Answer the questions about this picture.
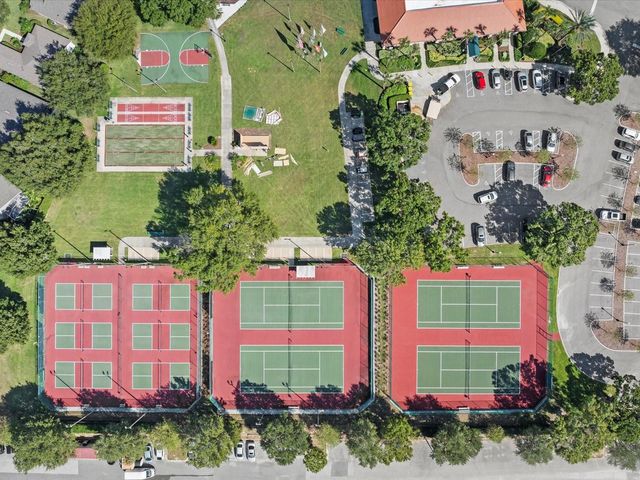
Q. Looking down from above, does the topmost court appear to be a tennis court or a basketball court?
basketball court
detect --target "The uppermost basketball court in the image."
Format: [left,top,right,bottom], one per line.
[141,32,208,84]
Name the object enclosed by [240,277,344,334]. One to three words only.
tennis court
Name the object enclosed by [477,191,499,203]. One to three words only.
vehicle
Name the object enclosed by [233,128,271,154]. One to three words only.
shed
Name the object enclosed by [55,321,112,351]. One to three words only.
sports court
